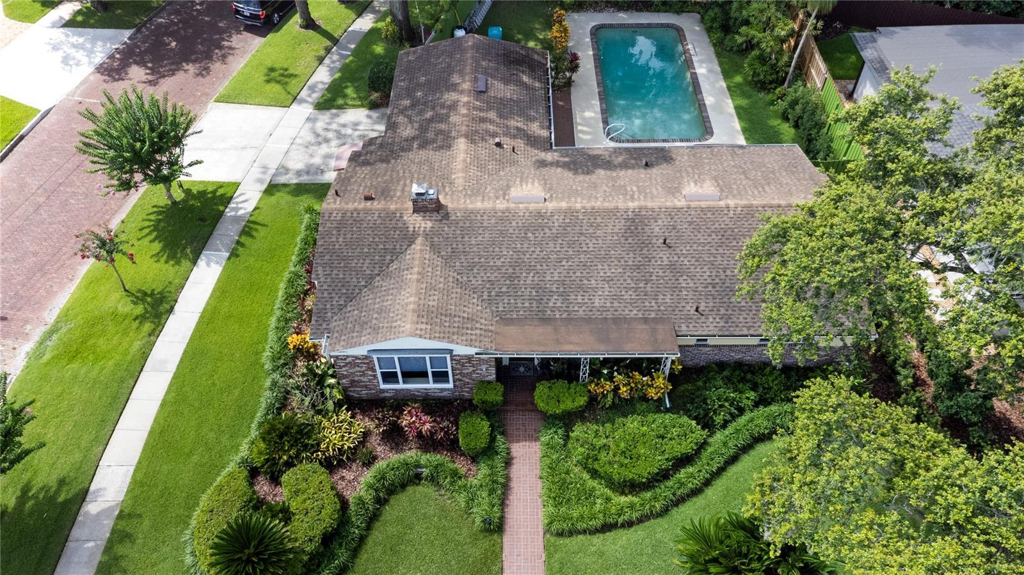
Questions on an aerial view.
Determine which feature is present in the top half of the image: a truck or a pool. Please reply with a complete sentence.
Visible in the top half of the image is a pool.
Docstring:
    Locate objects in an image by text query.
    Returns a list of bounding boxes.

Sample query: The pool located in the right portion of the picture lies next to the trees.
[591,23,714,141]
